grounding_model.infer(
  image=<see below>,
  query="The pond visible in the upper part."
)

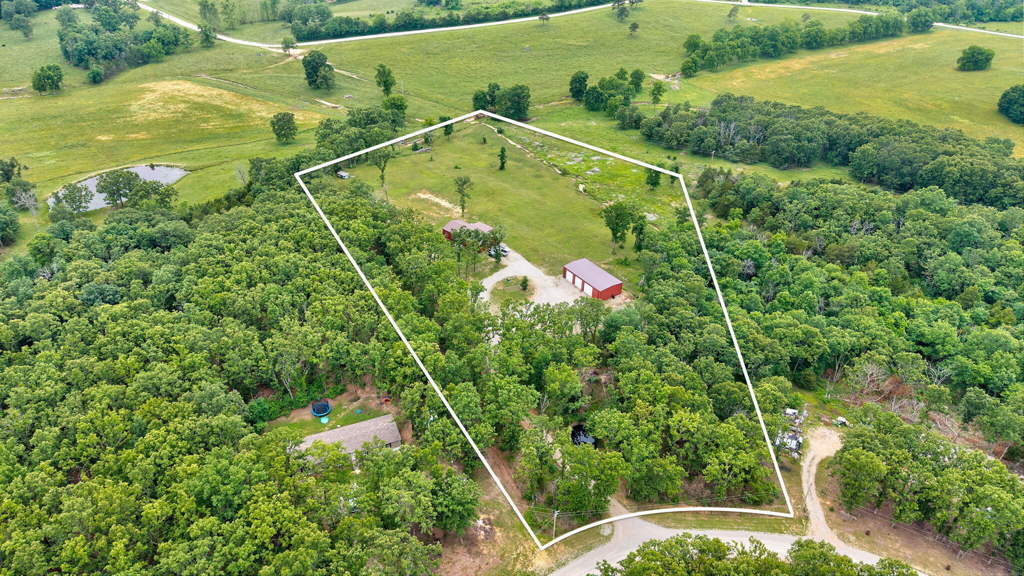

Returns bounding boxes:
[46,165,190,212]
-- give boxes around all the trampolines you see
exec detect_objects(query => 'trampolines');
[310,395,331,415]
